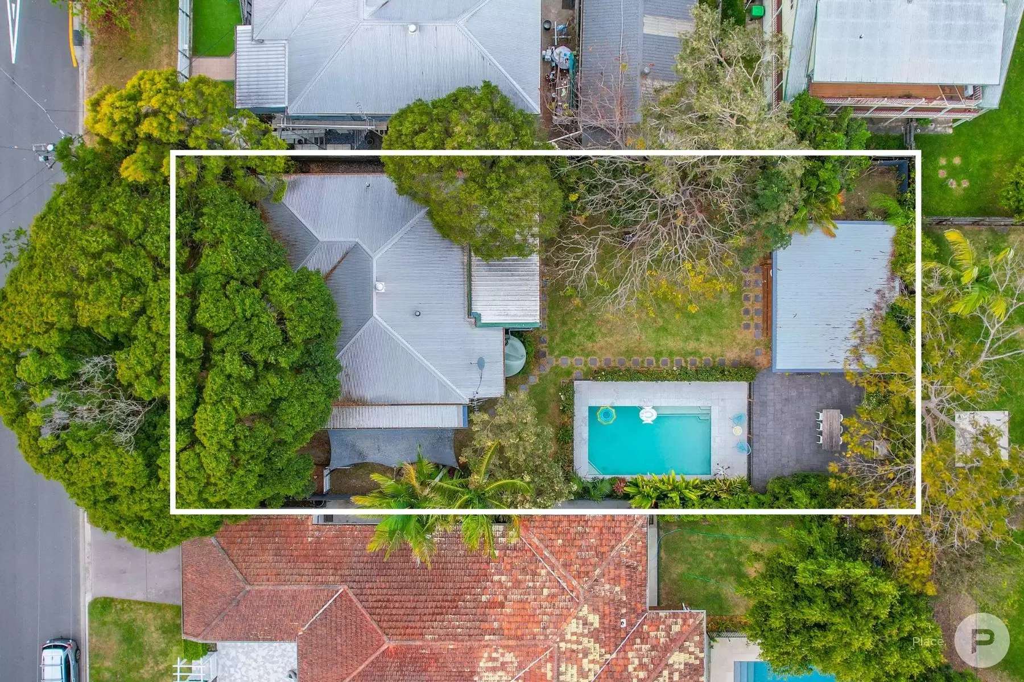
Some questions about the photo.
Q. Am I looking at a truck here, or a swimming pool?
swimming pool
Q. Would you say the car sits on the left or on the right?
left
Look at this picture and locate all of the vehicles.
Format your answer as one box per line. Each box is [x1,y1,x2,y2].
[35,634,87,682]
